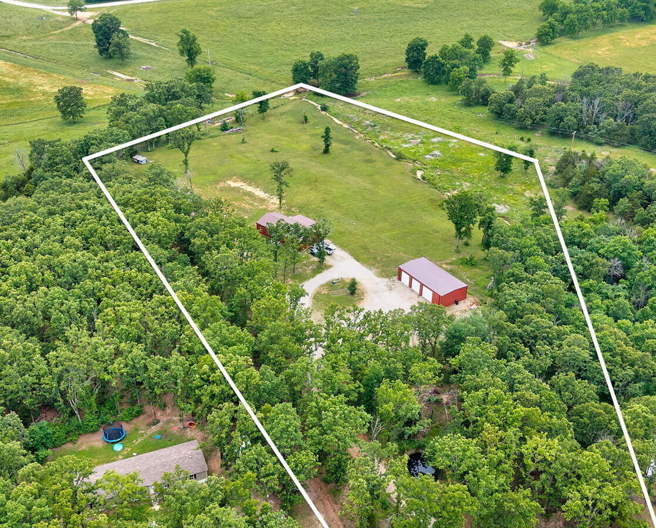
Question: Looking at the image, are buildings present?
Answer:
Yes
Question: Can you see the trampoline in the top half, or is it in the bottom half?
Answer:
bottom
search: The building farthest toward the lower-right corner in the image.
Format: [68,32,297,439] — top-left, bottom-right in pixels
[397,257,468,309]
